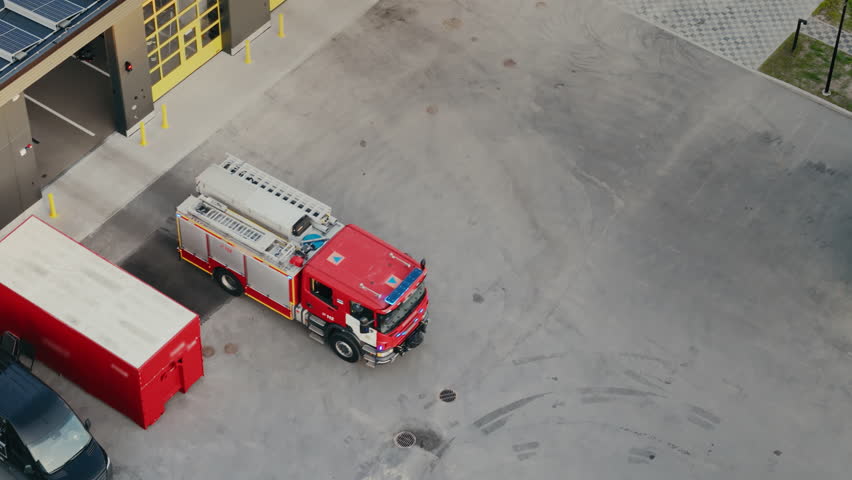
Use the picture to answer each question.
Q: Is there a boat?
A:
No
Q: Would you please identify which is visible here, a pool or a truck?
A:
truck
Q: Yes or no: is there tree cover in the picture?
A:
No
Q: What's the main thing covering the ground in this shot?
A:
paved ground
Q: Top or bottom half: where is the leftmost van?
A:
bottom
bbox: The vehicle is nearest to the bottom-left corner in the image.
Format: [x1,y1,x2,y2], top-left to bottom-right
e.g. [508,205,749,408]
[0,346,115,480]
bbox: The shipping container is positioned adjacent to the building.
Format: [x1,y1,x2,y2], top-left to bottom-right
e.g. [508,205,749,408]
[0,216,205,428]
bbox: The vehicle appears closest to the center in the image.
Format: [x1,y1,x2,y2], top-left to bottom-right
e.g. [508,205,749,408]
[176,156,434,374]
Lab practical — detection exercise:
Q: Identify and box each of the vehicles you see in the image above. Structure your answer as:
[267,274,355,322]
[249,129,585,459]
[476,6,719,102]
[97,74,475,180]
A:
[176,156,434,374]
[0,346,115,480]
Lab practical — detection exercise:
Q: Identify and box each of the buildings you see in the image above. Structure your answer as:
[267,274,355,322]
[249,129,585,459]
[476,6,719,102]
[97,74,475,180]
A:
[0,0,285,233]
